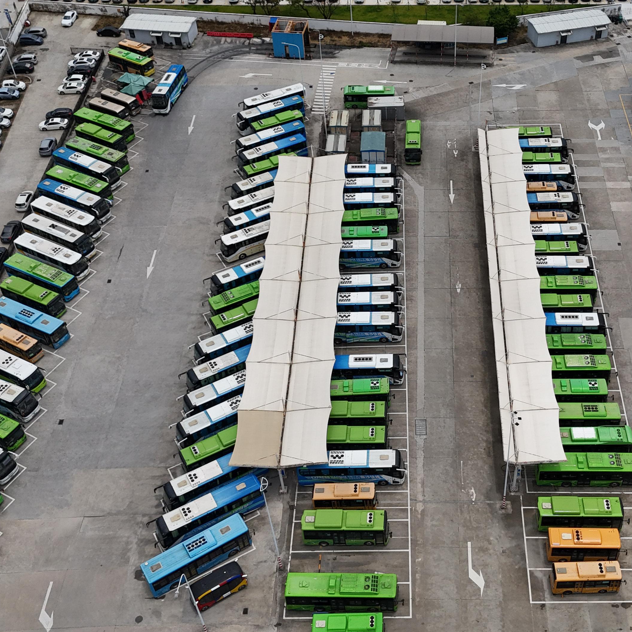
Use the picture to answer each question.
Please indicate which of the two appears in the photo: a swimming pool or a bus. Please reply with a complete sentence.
There is a bus in the scene.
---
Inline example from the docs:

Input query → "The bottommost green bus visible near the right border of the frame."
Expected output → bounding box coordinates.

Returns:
[537,497,627,531]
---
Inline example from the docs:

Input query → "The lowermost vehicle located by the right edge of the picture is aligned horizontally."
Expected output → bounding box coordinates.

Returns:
[551,560,627,597]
